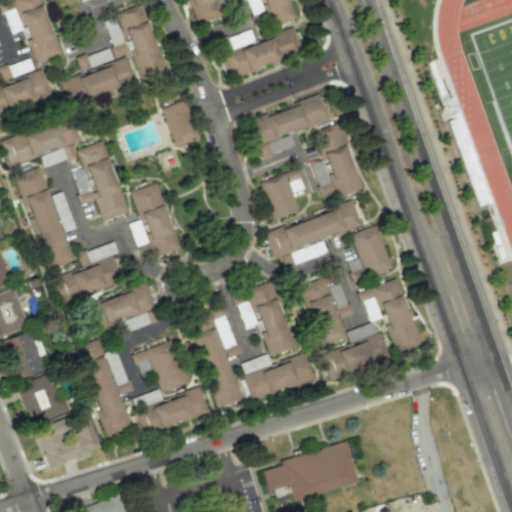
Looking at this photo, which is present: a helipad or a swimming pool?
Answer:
swimming pool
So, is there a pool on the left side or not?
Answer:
Yes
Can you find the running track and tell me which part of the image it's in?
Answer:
top right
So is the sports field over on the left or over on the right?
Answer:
right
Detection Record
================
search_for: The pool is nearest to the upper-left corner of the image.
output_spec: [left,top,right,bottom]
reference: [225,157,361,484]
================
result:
[117,116,176,162]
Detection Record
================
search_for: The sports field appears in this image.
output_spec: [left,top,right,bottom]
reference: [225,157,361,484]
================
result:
[462,0,512,183]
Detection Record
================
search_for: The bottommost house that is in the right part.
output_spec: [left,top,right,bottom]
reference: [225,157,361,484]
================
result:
[264,442,358,500]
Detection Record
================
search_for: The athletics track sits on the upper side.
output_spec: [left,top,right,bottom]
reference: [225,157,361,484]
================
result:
[439,0,512,245]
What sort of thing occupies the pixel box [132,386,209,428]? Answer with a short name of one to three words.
house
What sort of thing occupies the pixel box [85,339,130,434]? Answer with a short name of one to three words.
house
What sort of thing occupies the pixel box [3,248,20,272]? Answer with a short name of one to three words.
swimming pool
